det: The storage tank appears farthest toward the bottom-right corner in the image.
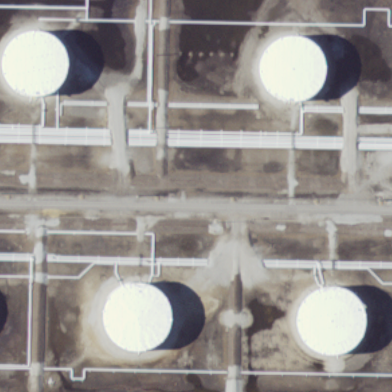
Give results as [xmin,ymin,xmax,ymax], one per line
[296,286,368,358]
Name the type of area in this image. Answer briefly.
industrial area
